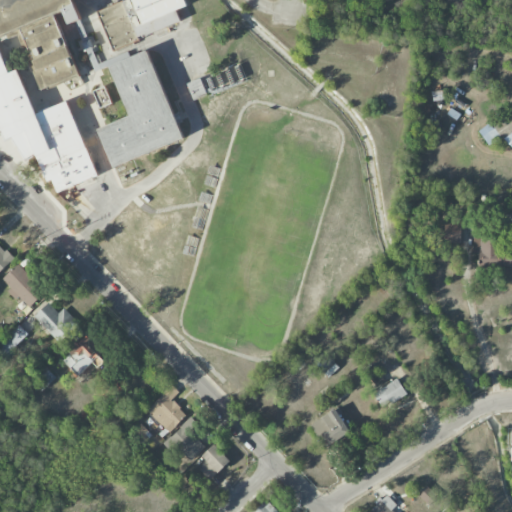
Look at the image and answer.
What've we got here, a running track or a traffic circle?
running track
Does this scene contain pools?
No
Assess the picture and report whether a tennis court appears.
No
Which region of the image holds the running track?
center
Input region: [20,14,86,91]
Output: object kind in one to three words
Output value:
building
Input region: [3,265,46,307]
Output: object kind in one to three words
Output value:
house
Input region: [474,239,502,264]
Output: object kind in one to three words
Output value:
house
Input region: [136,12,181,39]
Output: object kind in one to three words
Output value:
building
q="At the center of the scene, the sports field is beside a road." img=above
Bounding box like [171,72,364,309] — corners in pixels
[183,103,342,358]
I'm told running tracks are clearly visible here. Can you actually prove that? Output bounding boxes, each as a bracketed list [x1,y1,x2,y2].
[180,100,345,361]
